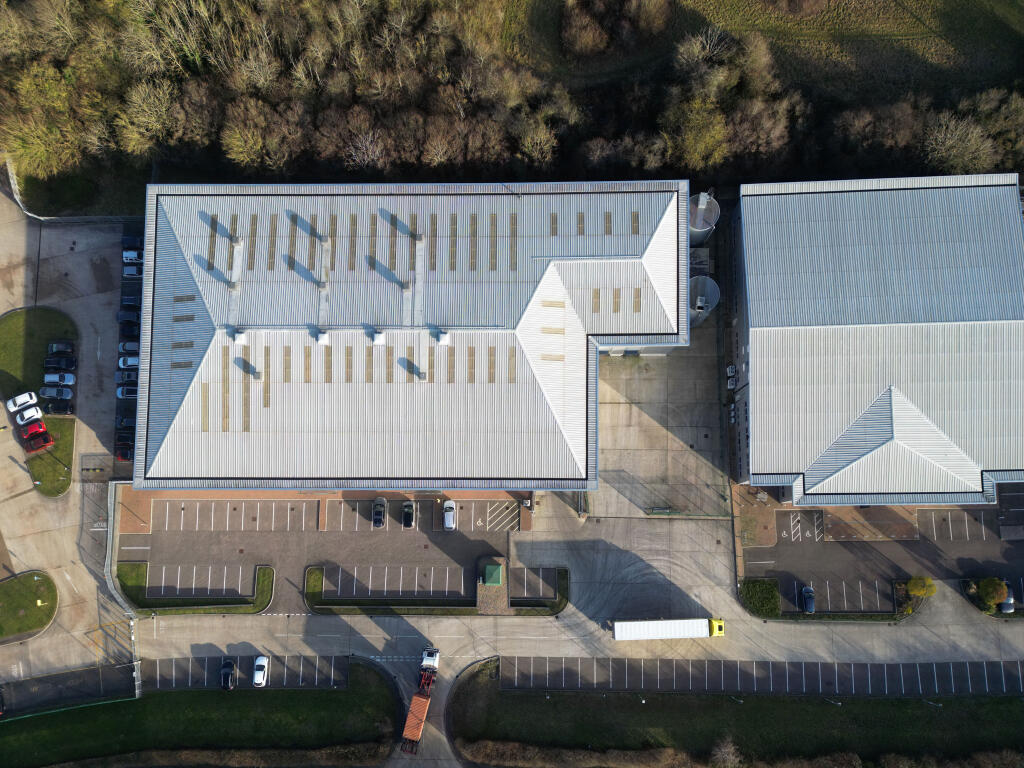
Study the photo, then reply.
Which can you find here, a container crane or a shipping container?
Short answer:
shipping container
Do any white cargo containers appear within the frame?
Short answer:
No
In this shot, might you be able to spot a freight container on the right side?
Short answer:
No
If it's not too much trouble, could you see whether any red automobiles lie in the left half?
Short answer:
Yes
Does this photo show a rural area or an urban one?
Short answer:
urban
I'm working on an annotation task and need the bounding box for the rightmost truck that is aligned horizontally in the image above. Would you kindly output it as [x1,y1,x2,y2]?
[608,612,726,641]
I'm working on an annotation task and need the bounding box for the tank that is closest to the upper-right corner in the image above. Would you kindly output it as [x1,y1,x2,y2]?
[689,193,721,242]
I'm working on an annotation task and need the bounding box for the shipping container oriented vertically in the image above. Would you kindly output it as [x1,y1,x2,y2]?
[402,690,431,743]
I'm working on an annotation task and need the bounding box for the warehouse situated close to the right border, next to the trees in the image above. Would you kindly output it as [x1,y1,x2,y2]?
[728,174,1024,505]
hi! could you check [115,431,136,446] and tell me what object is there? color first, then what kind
black car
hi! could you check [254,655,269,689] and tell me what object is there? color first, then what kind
white car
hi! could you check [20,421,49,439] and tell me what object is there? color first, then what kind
red car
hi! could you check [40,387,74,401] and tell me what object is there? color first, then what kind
blue car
